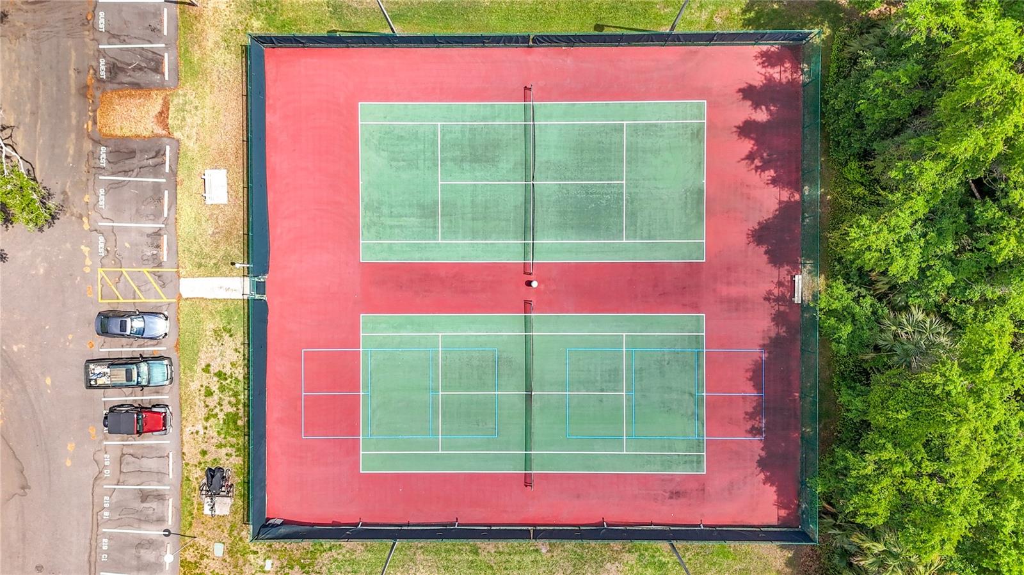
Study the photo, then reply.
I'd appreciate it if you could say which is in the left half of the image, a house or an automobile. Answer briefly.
automobile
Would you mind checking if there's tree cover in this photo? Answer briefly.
Yes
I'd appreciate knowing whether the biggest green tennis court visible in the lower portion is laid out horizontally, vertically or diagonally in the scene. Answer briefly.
horizontally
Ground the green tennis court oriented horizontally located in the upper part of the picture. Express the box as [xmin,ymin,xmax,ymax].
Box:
[359,100,706,262]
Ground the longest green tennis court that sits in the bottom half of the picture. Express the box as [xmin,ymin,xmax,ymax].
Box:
[360,314,706,474]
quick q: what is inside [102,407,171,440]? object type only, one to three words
car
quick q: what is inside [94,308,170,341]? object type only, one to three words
car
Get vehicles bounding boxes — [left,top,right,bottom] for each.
[94,308,170,341]
[102,407,171,440]
[82,355,173,394]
